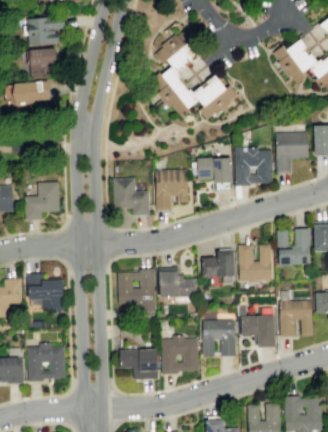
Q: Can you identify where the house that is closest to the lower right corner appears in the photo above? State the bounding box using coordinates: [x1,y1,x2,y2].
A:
[286,397,324,432]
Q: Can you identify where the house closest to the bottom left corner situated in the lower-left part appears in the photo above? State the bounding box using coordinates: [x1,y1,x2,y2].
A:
[0,357,24,383]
